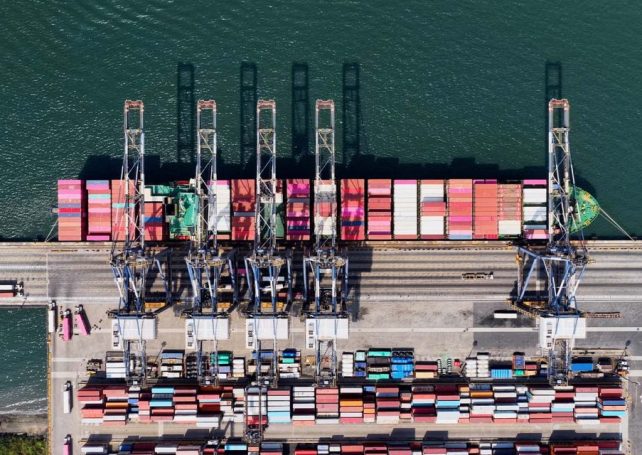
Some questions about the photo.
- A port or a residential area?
port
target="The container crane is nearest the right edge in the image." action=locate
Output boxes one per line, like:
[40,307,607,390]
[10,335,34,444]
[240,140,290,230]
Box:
[502,100,587,385]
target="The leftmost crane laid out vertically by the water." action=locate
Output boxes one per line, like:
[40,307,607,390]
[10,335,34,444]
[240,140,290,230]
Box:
[106,100,186,385]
